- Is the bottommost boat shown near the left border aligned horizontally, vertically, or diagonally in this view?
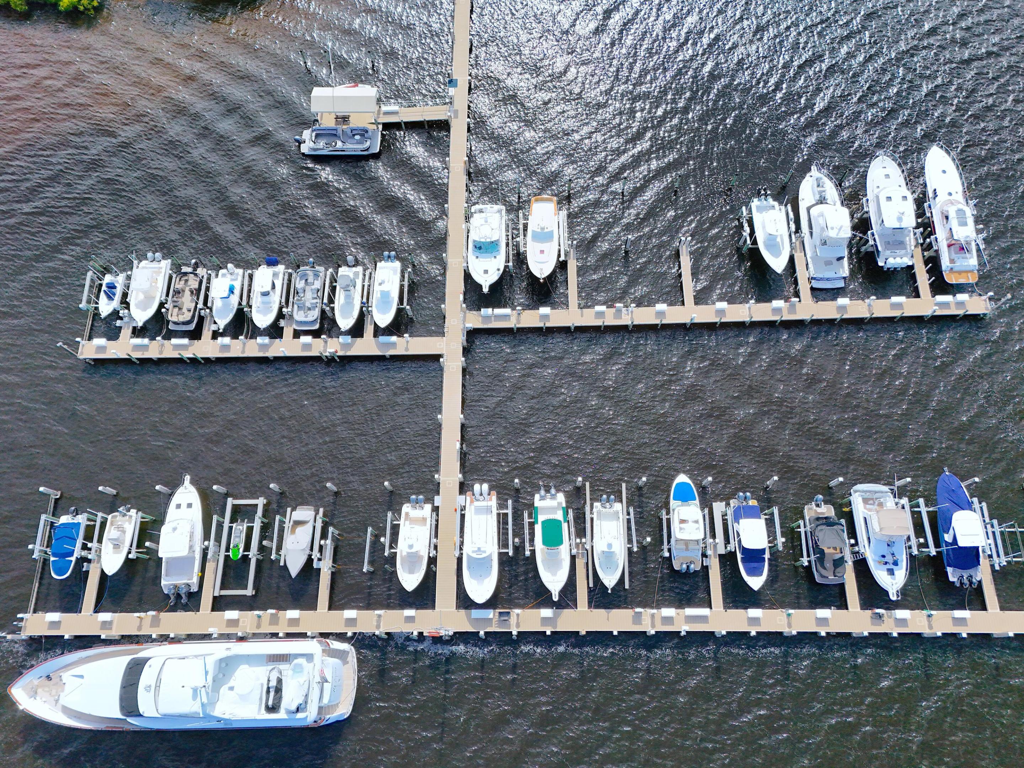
horizontally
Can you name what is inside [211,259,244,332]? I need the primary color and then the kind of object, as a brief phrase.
white boat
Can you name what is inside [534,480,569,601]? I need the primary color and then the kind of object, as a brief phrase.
white boat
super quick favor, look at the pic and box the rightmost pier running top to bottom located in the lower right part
[979,543,1000,611]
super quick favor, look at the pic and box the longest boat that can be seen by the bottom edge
[7,639,359,733]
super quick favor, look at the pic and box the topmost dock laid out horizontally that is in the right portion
[466,297,989,327]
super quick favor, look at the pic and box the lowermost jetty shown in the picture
[21,609,1024,635]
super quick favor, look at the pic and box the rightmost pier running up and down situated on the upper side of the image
[911,235,932,298]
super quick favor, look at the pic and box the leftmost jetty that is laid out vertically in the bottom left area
[81,550,103,613]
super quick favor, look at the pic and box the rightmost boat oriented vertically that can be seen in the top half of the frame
[923,141,1002,286]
